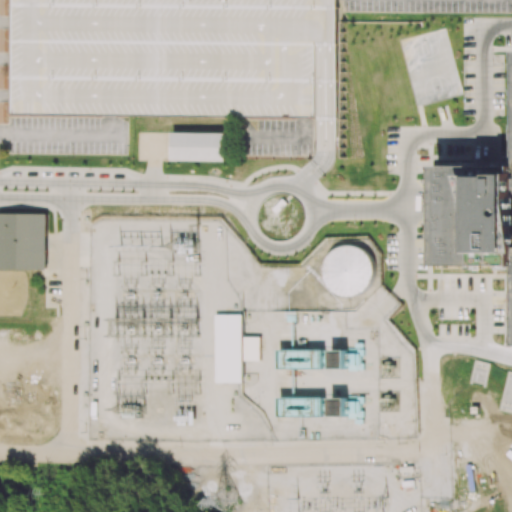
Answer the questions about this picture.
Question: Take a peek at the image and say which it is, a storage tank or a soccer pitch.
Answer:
storage tank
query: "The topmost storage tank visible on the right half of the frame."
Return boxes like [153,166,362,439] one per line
[324,244,378,298]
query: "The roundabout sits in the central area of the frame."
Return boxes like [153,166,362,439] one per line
[245,178,320,256]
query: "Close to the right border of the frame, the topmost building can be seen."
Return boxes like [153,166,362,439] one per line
[424,166,512,266]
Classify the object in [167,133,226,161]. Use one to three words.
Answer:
building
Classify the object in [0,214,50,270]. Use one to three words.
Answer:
building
